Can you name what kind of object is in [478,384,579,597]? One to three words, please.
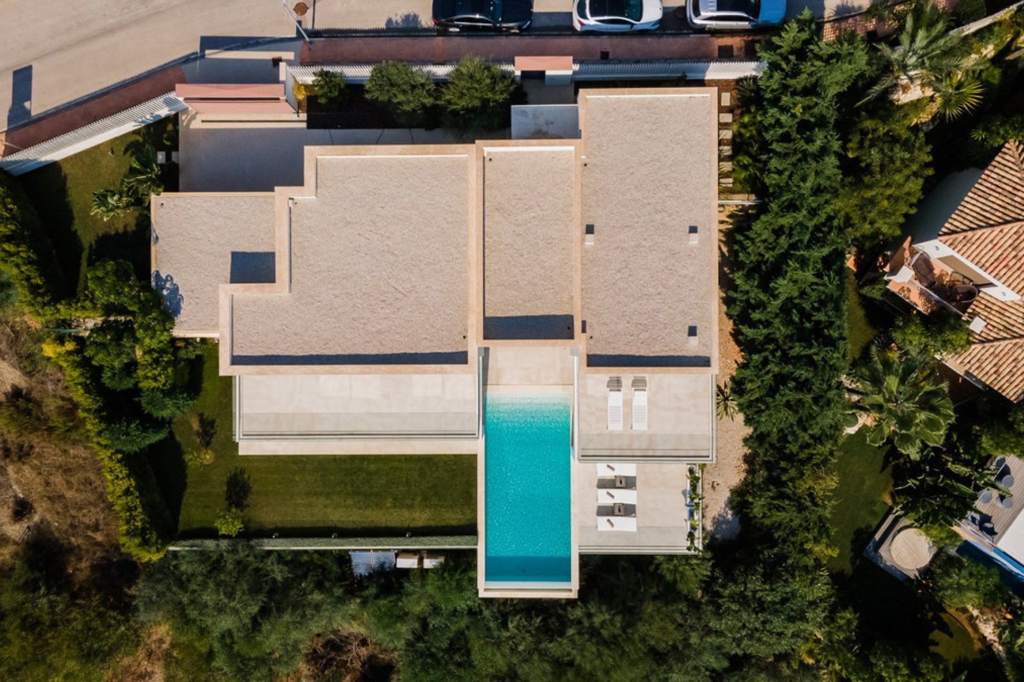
swimming pool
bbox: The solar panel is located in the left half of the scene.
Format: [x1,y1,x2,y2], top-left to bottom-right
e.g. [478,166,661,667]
[348,549,399,574]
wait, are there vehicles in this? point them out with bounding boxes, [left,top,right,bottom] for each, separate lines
[433,0,532,32]
[684,0,786,32]
[572,0,661,32]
